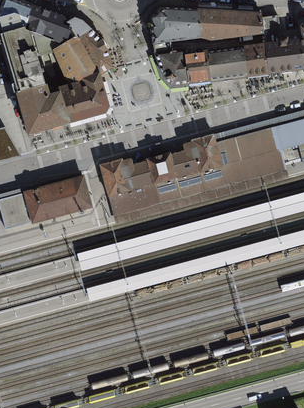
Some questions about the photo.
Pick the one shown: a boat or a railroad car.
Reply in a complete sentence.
The one in the frame is a railroad car.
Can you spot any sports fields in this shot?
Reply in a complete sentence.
No, the frame has no sports field in it.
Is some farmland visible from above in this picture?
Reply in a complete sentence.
No, the scene doesn't show any farmland.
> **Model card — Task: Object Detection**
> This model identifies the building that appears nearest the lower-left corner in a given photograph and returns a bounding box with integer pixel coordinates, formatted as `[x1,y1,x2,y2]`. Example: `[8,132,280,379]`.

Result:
[0,194,31,228]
